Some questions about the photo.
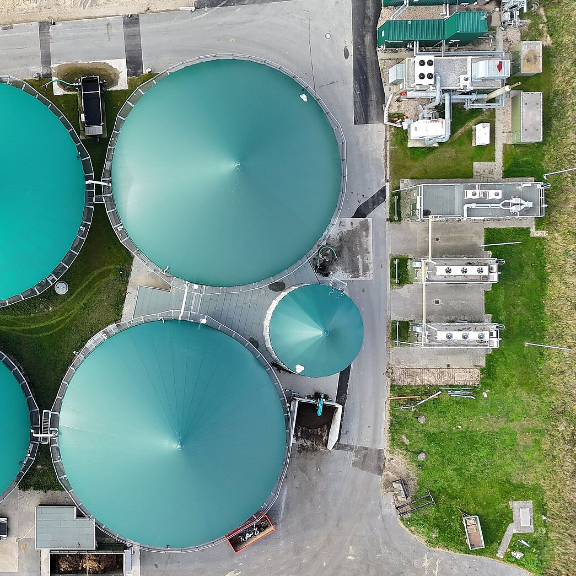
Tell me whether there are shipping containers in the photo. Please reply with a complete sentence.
Yes, a shipping container appears in the view.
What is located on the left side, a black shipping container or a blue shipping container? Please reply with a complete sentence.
The one visible on the left side is a black shipping container.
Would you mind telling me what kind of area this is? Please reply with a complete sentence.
This image shows an industrial area.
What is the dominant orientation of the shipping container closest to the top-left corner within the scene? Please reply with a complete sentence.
The shipping container closest to the top-left corner runs from top to bottom in the image.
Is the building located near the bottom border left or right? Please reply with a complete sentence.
The building located near the bottom border is on the left side of the image.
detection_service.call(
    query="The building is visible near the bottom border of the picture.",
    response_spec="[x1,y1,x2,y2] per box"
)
[35,501,95,550]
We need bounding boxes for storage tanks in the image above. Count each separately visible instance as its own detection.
[0,345,41,504]
[0,77,94,309]
[264,282,363,377]
[100,53,345,297]
[50,310,292,552]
